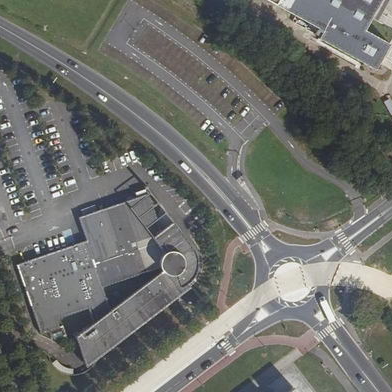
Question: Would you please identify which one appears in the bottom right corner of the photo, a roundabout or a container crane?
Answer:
roundabout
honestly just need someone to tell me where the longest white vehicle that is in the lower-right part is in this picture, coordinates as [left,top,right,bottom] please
[318,296,337,322]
